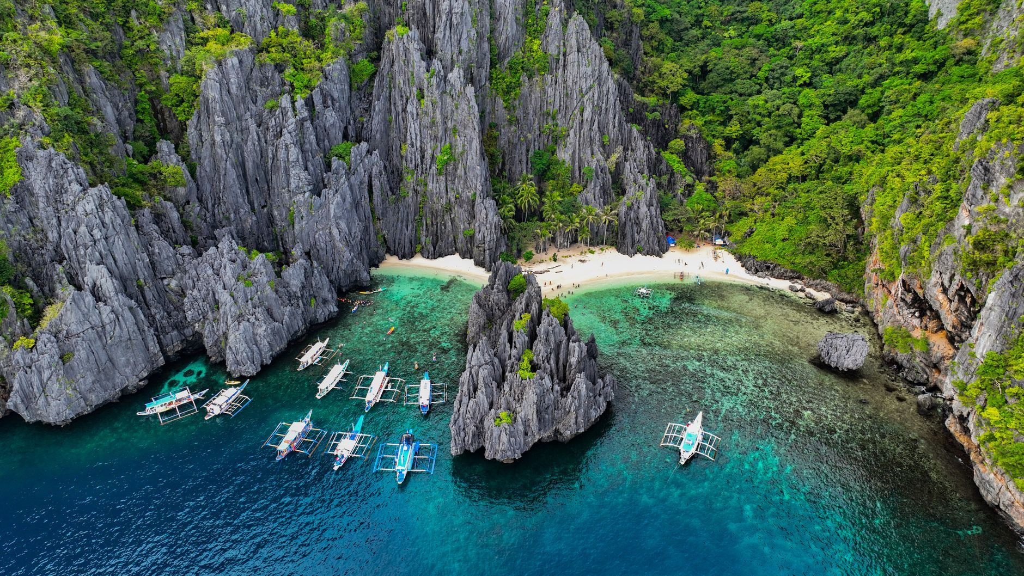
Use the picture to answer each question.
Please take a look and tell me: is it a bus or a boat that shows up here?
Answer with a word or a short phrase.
boat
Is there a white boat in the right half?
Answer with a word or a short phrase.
Yes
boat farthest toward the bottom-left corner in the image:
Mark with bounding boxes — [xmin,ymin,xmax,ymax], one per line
[136,385,209,424]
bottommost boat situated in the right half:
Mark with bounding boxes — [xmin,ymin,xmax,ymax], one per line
[660,411,721,468]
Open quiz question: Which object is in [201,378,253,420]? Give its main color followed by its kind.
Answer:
white boat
